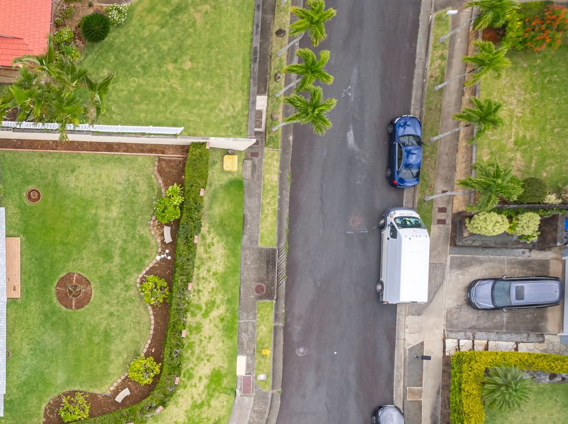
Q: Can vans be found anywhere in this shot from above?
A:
Yes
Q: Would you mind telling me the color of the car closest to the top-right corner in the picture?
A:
blue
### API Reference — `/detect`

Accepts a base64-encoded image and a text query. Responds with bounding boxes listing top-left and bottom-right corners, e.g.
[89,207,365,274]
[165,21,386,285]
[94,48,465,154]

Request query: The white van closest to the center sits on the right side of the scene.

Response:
[377,207,430,304]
